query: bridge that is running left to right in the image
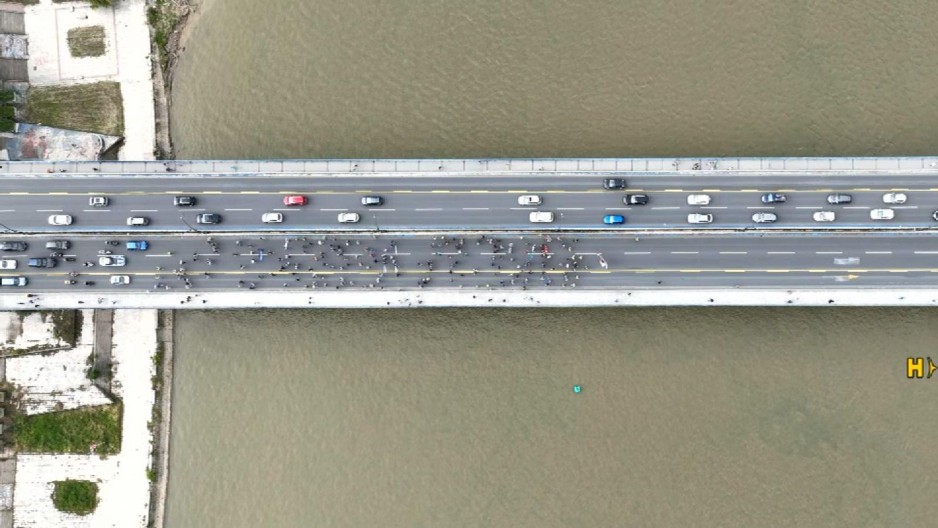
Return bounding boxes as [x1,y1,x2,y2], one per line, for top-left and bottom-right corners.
[0,156,938,310]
